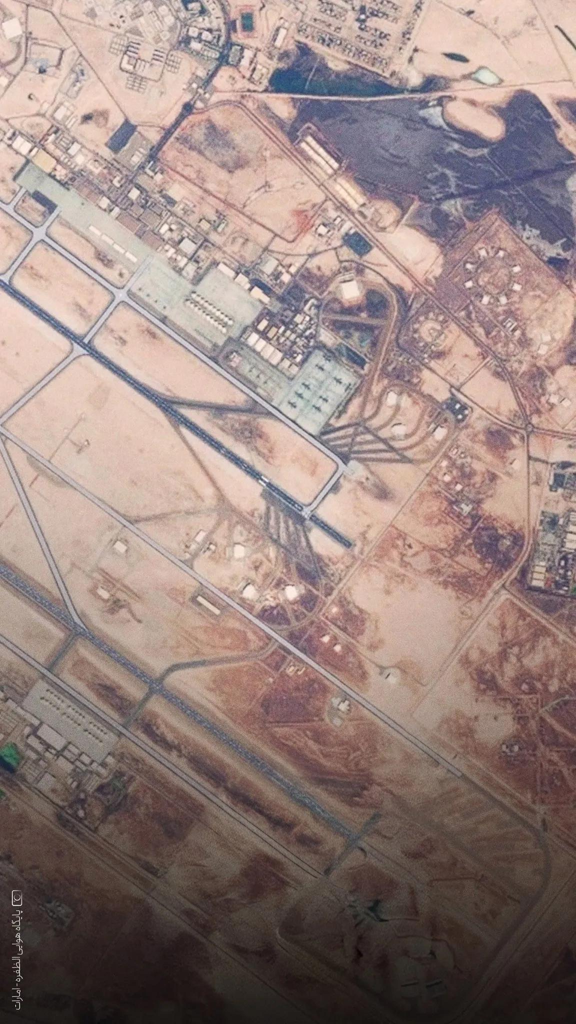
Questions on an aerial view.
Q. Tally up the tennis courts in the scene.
0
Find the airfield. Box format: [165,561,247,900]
[0,160,552,926]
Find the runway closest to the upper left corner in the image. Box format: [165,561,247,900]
[0,281,305,511]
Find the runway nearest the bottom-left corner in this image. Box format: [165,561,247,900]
[0,567,358,844]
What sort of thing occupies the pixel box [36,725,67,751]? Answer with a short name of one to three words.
hangar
